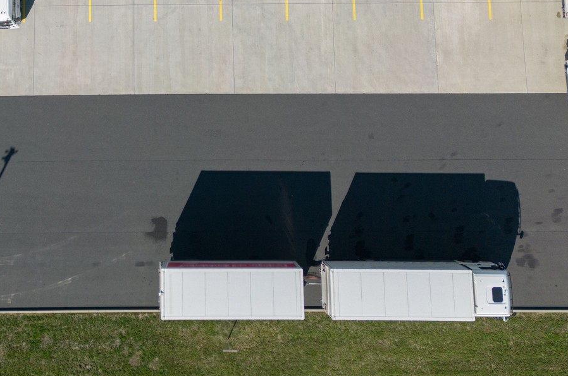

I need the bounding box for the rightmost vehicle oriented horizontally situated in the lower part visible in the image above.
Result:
[319,256,505,320]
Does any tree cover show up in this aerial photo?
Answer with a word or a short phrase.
No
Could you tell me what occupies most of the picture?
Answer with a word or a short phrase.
paved ground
